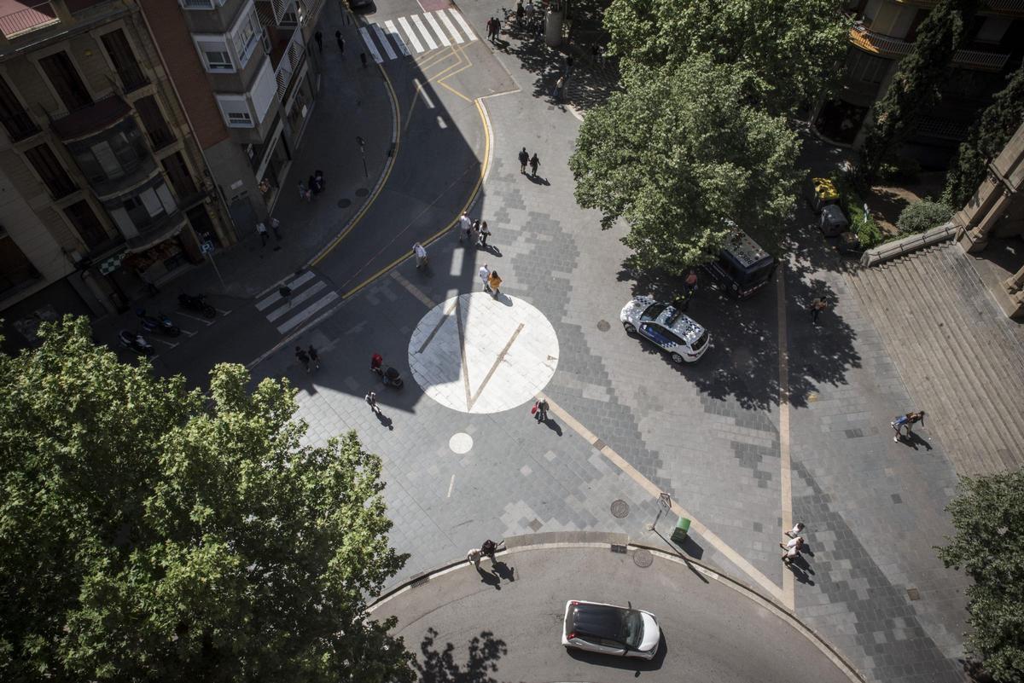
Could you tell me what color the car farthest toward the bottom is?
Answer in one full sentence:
The car farthest toward the bottom looks black in the image.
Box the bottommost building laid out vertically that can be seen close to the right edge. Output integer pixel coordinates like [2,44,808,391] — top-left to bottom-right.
[952,190,1024,347]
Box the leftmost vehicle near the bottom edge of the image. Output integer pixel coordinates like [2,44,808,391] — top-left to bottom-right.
[562,608,657,671]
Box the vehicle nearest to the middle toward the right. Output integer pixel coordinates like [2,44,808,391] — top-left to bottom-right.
[620,295,711,366]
